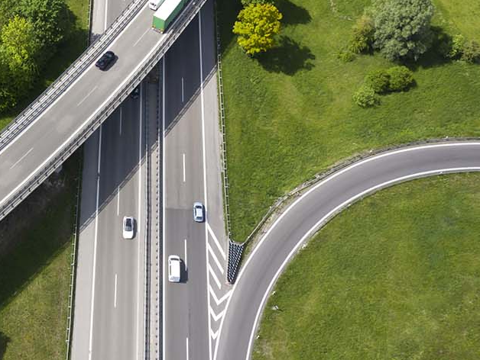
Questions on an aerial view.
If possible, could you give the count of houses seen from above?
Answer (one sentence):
The count of houses is 0.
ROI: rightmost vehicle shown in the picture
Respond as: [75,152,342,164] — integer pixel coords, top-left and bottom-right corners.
[193,201,205,224]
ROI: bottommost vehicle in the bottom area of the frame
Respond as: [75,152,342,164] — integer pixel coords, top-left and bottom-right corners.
[167,256,182,283]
